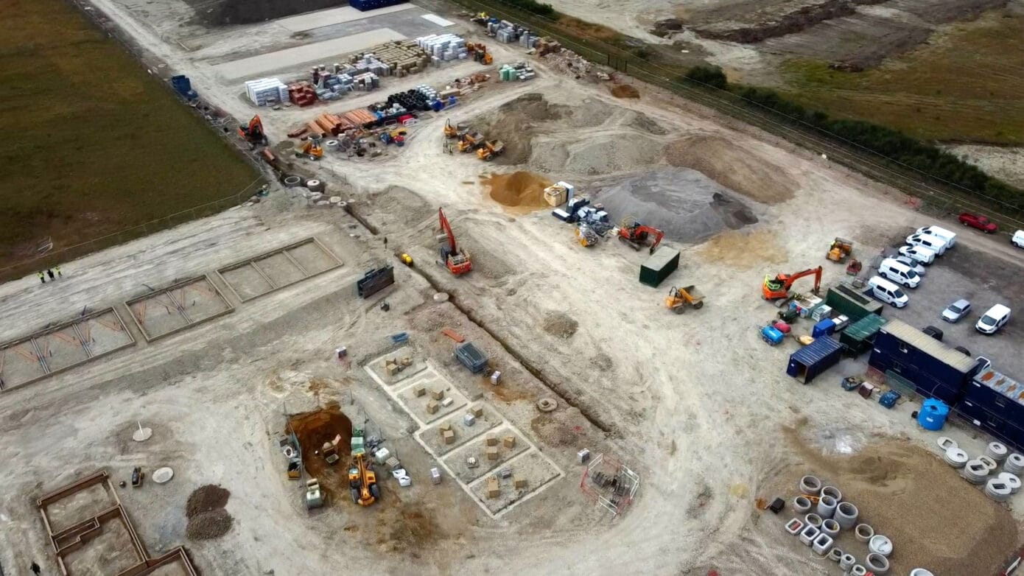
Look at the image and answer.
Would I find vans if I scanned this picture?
Yes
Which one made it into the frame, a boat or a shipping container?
shipping container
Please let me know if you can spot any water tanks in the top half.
No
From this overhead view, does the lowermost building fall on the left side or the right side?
right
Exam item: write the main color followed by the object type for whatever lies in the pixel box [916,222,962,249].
white vehicle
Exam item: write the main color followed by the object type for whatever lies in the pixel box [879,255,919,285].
white van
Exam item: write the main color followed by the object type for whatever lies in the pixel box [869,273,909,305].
white van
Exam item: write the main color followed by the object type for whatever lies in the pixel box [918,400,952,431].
blue water tank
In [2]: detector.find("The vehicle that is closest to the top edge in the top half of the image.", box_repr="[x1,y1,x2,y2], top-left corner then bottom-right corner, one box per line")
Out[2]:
[469,41,490,60]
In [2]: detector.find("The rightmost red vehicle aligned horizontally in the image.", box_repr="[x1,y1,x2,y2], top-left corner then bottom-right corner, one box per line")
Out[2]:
[958,214,1000,234]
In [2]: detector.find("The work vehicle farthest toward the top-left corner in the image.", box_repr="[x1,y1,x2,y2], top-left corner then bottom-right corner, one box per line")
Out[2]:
[239,113,267,144]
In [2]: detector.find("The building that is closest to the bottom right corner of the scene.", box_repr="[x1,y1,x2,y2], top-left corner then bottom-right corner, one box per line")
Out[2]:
[964,370,1024,452]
